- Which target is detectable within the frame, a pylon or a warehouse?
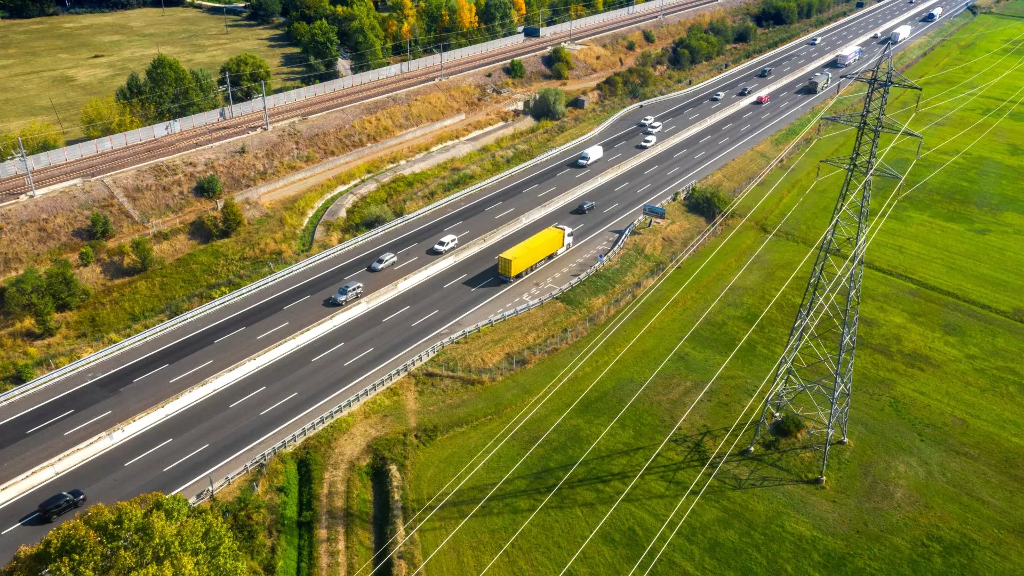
pylon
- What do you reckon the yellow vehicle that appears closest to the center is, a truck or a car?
truck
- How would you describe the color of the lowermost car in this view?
black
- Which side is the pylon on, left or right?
right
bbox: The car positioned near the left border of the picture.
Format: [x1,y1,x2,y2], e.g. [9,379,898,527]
[29,486,91,526]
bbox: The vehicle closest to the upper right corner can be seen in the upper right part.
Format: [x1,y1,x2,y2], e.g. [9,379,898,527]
[925,3,946,20]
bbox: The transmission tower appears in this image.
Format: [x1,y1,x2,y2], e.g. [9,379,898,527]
[744,41,925,487]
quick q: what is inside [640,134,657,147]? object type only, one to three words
vehicle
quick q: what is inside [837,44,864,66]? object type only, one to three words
truck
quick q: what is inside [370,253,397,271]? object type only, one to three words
car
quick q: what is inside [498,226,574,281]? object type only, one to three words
truck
